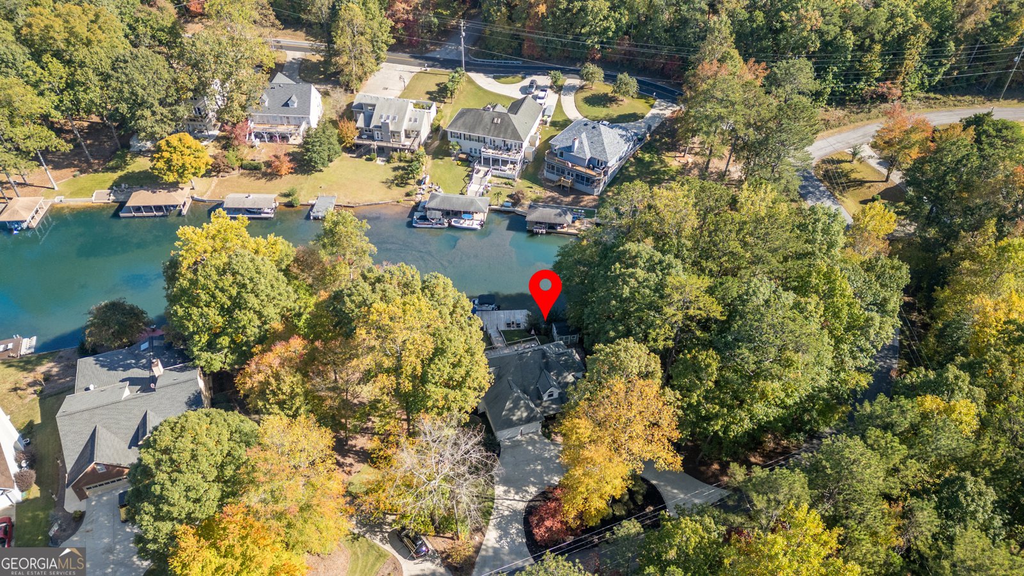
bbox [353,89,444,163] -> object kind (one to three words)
house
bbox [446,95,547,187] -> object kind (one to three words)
house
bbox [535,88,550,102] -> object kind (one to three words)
vehicle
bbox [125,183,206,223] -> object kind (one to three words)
building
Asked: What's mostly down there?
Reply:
trees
